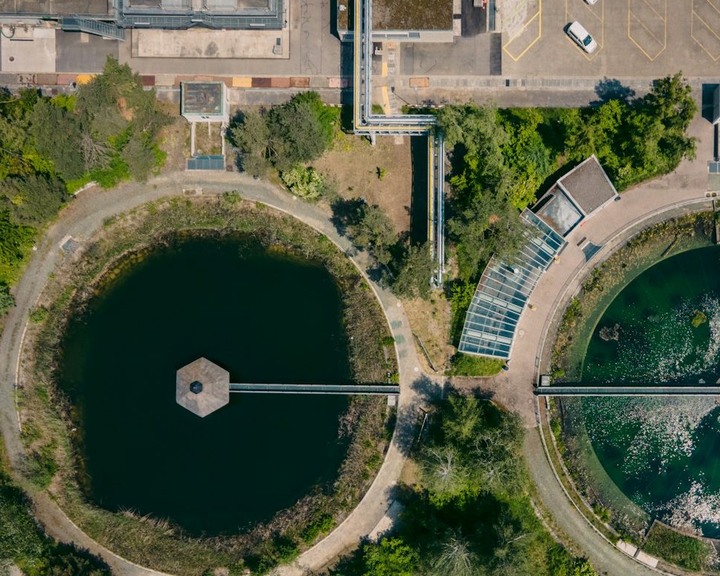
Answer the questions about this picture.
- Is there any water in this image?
Yes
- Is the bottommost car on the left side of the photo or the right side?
right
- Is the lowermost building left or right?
left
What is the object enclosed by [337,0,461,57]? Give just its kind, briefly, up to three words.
building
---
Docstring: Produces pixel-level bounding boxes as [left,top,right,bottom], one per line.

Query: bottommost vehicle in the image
[567,17,599,52]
